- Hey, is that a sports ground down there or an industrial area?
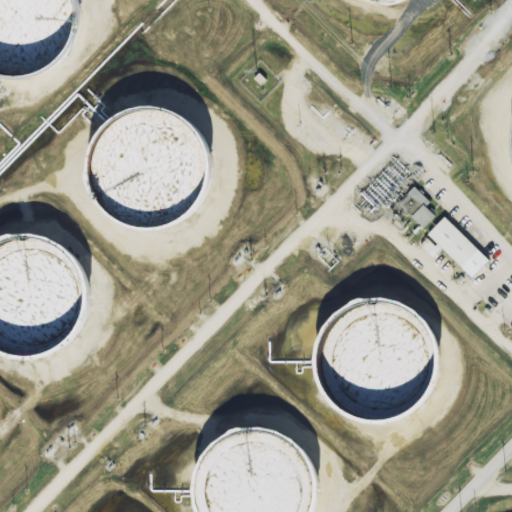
industrial area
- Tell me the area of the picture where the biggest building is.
right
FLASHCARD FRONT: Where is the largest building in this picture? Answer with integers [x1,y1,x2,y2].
[428,217,489,278]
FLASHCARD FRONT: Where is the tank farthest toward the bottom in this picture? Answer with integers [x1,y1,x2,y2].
[191,426,316,512]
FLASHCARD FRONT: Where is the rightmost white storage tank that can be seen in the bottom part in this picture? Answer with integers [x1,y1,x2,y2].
[313,298,439,423]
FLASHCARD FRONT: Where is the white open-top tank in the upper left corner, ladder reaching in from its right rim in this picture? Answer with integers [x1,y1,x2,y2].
[0,0,77,80]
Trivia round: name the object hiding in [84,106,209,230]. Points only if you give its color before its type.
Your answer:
white storage tank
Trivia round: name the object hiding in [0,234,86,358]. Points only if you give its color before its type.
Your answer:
white storage tank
